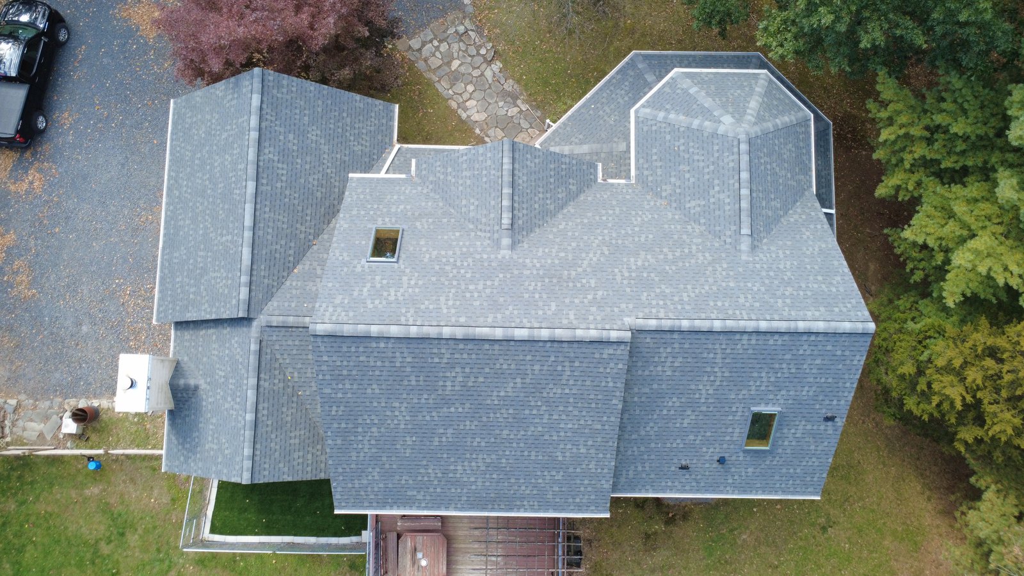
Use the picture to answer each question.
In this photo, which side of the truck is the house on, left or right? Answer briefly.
to its right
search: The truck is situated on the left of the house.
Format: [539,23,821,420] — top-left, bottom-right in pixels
[0,0,71,155]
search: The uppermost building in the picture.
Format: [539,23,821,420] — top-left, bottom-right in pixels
[113,48,876,520]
